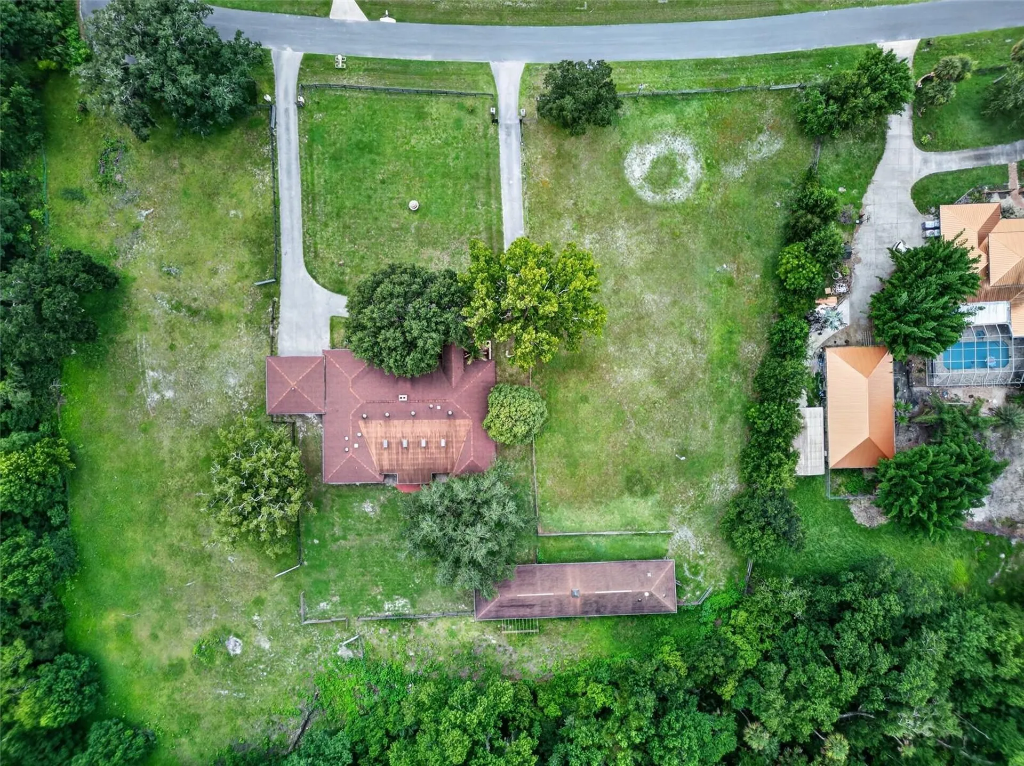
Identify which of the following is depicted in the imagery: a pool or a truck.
pool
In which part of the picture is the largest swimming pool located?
right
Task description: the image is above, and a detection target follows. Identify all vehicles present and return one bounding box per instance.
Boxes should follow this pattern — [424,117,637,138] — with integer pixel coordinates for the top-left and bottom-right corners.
[919,220,940,231]
[920,229,940,239]
[891,237,914,258]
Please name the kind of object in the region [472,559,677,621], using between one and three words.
building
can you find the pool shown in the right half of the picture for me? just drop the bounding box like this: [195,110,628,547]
[942,340,1010,370]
